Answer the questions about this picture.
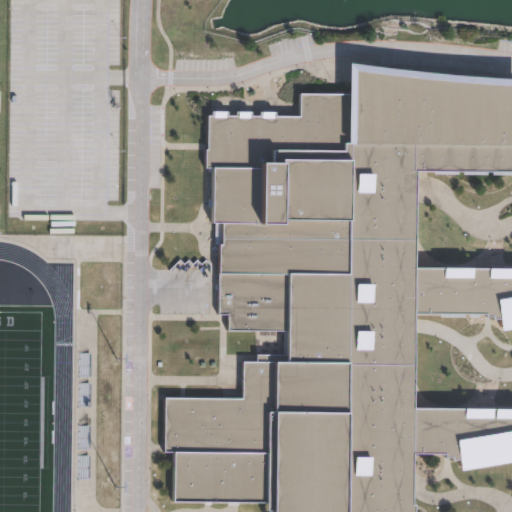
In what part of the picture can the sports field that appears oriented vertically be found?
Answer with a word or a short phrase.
bottom left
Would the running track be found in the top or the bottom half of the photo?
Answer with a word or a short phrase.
bottom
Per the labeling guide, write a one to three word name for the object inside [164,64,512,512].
building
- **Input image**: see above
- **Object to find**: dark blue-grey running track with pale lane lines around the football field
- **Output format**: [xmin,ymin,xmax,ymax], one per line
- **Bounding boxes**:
[0,244,74,512]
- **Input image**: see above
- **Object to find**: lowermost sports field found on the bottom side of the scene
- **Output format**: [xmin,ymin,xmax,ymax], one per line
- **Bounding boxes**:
[0,306,54,512]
